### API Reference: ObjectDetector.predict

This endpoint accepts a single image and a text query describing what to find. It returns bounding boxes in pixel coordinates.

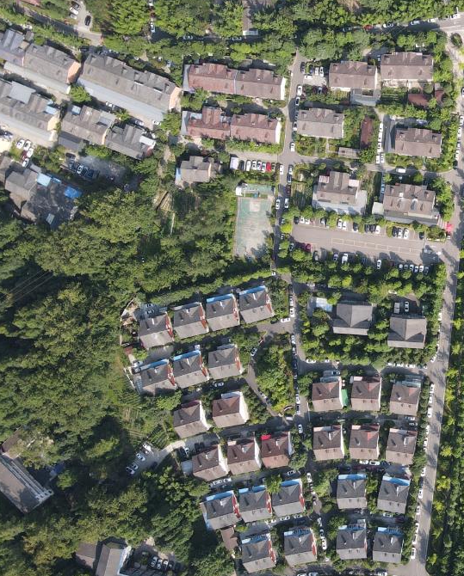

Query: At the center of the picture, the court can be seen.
[235,196,271,257]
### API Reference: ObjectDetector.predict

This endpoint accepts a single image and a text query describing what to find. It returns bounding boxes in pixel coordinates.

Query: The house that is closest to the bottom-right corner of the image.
[372,522,404,563]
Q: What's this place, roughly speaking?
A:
residential area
